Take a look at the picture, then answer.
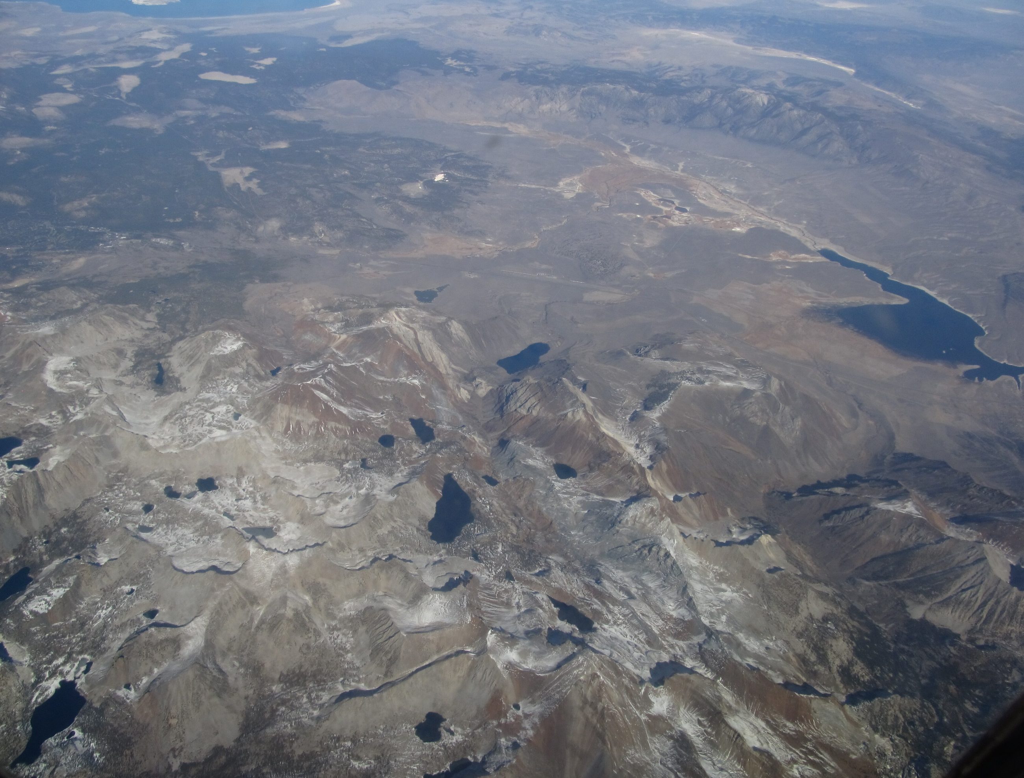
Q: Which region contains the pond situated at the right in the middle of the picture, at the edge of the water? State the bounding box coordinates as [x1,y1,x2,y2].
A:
[817,248,1024,389]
